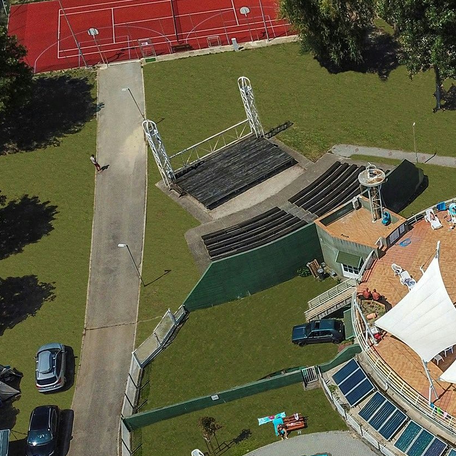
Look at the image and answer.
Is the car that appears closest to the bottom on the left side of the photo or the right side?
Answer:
left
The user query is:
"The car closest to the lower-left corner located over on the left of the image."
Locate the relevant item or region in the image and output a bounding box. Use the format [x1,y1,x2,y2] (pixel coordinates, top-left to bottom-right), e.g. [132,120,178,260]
[26,405,66,456]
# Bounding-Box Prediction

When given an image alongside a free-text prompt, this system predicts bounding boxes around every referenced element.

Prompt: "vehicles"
[296,318,352,350]
[34,347,71,399]
[26,405,66,456]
